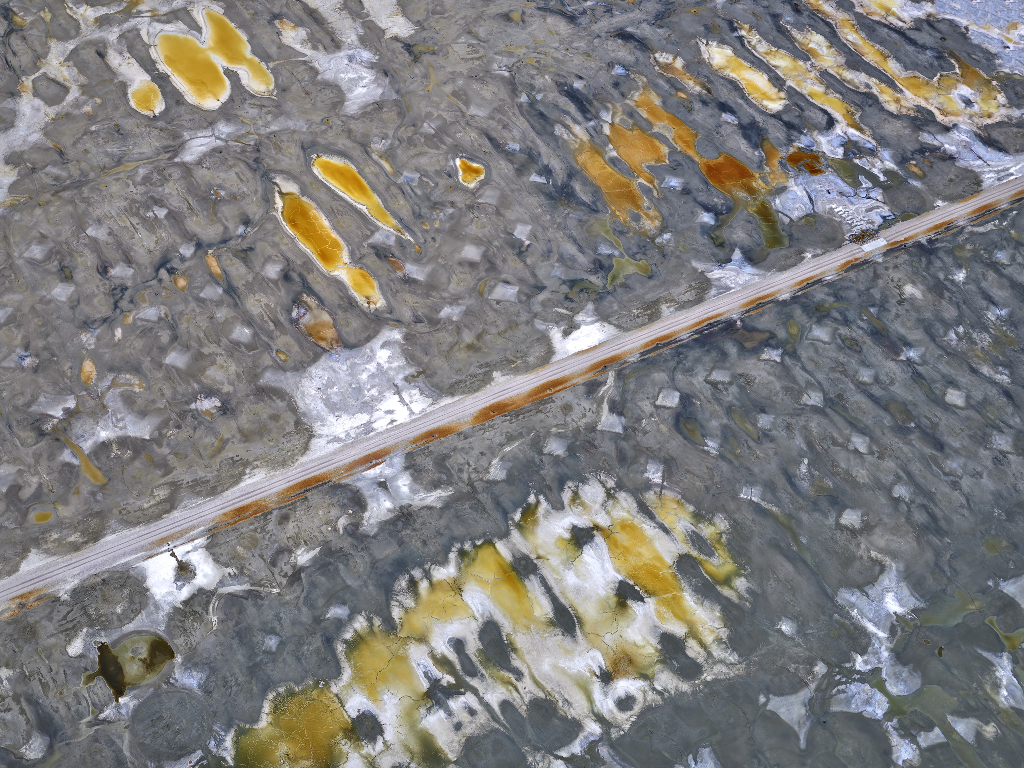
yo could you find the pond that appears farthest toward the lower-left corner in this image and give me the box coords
[82,636,175,703]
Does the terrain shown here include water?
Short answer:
Yes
